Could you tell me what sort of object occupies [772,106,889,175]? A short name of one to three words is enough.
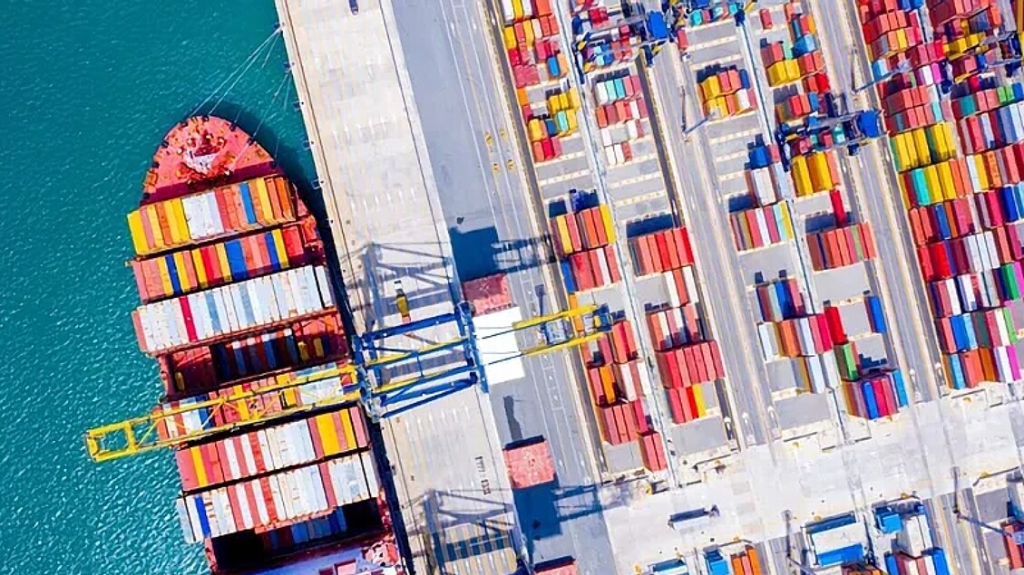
container crane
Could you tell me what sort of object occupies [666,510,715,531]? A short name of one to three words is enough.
truck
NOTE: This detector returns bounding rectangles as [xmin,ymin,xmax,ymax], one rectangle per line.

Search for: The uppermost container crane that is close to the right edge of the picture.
[938,32,1024,99]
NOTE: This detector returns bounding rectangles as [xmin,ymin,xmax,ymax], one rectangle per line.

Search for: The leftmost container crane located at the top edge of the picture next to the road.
[570,6,666,82]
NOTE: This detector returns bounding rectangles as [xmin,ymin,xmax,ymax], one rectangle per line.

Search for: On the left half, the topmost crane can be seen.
[81,300,615,463]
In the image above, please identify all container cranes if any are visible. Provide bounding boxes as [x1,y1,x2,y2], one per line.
[81,300,615,463]
[663,0,757,42]
[570,6,666,82]
[938,32,1024,99]
[772,106,889,175]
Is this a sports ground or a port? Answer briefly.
port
